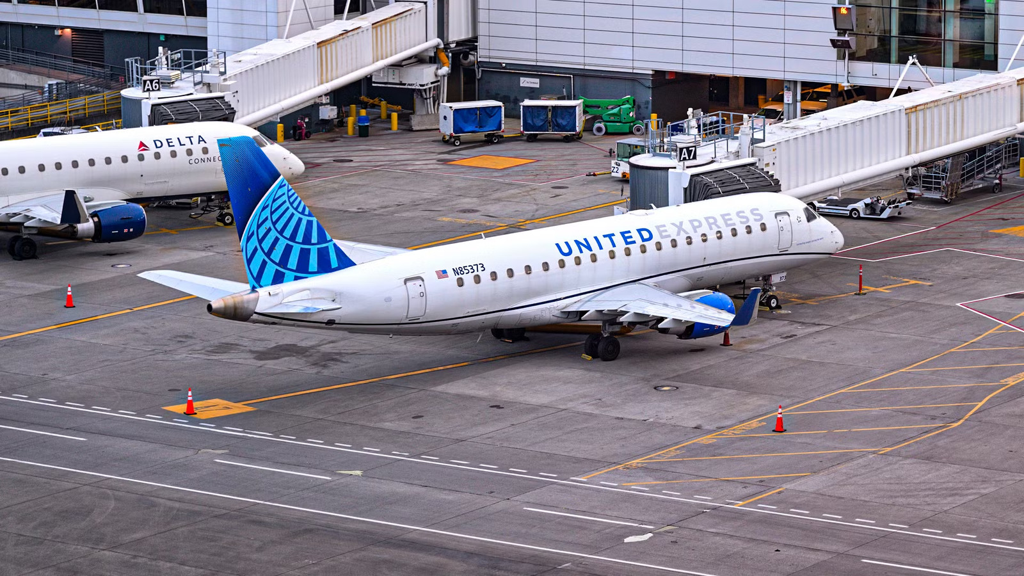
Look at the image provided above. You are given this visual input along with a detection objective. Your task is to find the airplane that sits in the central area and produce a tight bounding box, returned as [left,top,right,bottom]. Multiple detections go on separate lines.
[140,137,844,360]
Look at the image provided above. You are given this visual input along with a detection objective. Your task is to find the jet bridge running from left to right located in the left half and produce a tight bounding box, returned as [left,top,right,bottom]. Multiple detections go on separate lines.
[118,0,471,206]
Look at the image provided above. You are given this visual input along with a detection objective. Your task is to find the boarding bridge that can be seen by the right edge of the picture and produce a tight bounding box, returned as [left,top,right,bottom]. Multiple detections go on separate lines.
[618,35,1024,212]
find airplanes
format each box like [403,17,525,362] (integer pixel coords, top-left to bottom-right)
[0,121,303,260]
[140,137,844,360]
